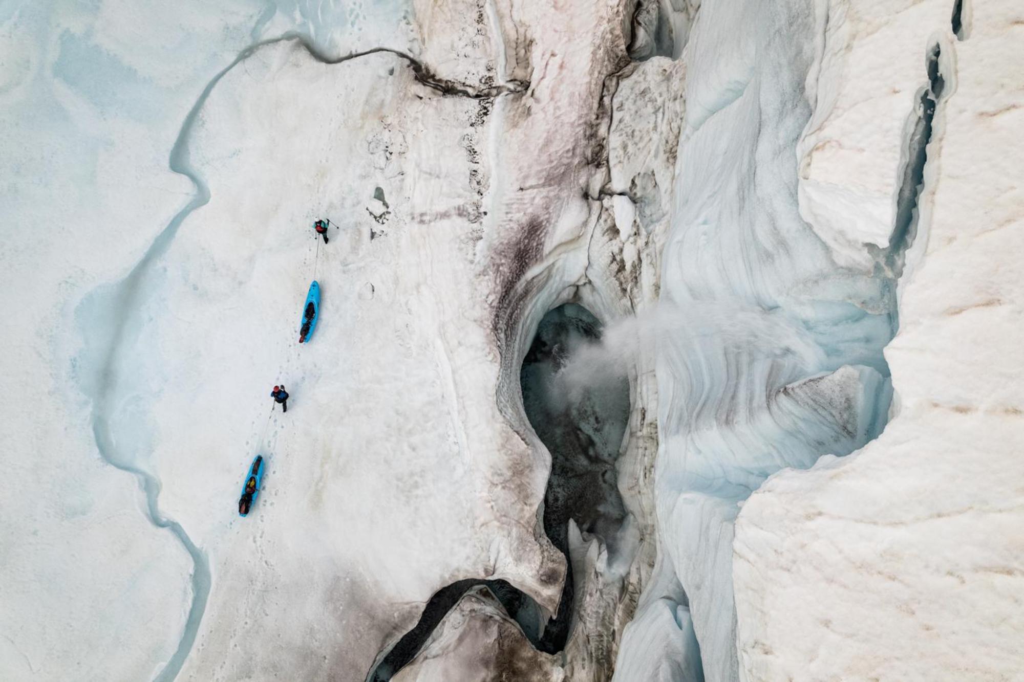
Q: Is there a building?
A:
No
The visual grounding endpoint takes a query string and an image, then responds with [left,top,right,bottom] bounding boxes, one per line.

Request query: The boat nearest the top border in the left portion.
[300,281,319,342]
